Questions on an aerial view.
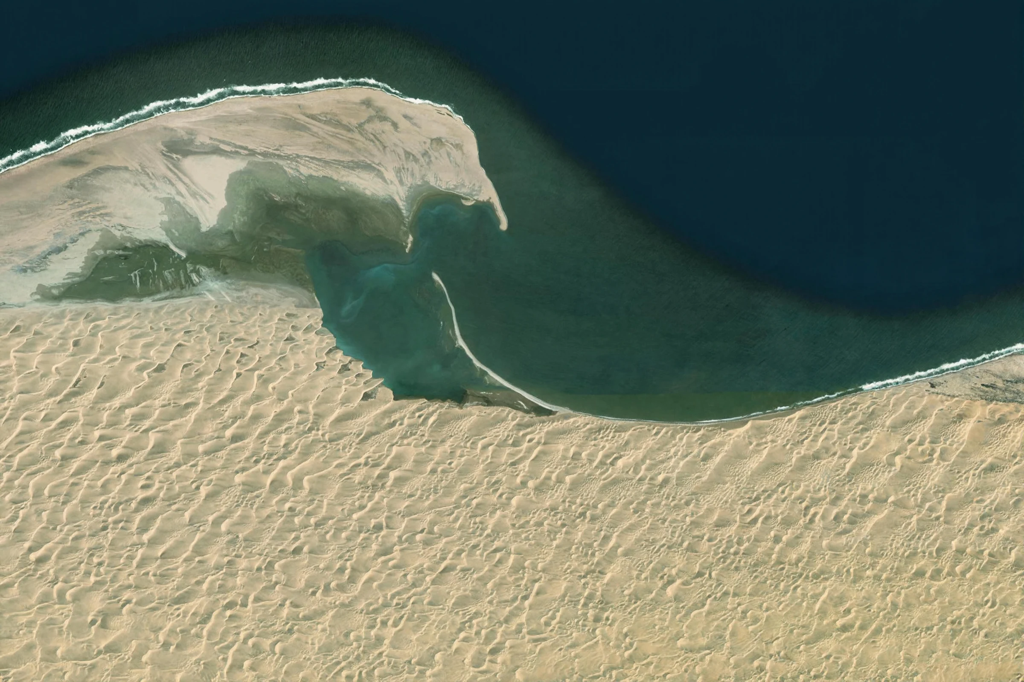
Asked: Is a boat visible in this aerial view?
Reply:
No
